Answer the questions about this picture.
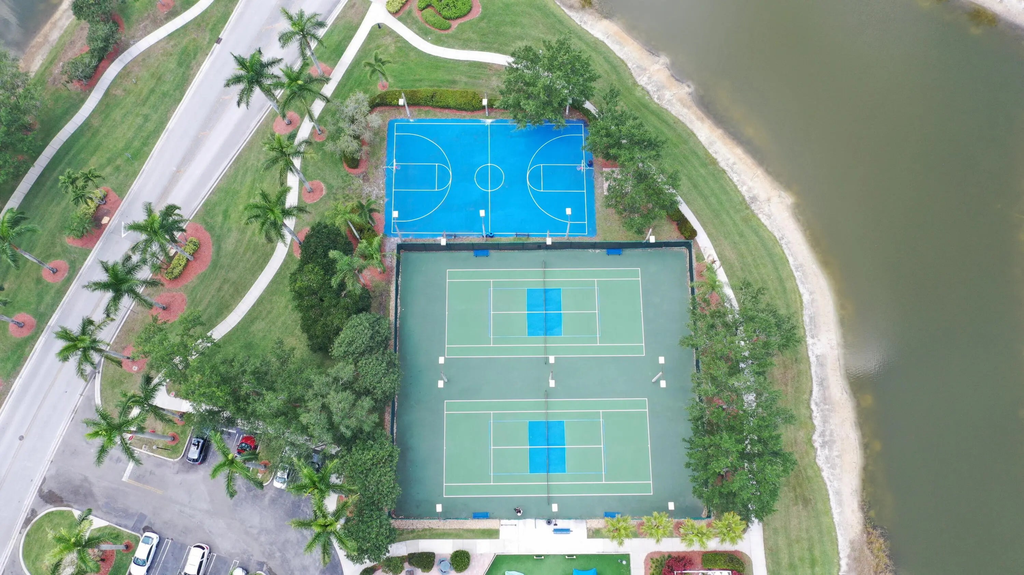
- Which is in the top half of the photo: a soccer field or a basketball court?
basketball court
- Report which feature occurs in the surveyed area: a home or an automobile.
automobile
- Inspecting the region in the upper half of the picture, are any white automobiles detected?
No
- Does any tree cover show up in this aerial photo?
Yes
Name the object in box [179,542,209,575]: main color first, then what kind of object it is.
white car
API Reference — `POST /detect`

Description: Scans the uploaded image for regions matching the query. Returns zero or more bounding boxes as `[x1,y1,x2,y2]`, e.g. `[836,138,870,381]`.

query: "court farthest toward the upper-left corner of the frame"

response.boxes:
[383,116,596,238]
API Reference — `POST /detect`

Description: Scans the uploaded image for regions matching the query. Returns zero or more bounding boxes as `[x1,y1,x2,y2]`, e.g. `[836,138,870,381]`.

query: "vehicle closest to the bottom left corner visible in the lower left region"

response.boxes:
[129,531,159,575]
